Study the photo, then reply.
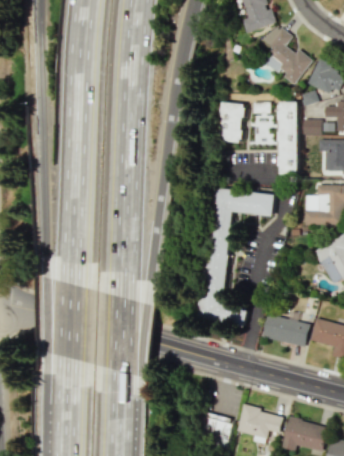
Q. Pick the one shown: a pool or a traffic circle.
pool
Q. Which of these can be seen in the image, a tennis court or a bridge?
bridge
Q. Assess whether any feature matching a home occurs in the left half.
No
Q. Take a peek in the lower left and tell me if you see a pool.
No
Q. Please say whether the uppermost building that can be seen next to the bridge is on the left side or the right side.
right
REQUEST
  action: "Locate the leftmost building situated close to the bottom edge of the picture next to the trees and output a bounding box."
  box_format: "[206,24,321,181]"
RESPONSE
[208,417,232,445]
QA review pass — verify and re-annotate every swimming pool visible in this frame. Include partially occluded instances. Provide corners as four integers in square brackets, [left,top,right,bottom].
[248,60,277,83]
[314,274,344,294]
